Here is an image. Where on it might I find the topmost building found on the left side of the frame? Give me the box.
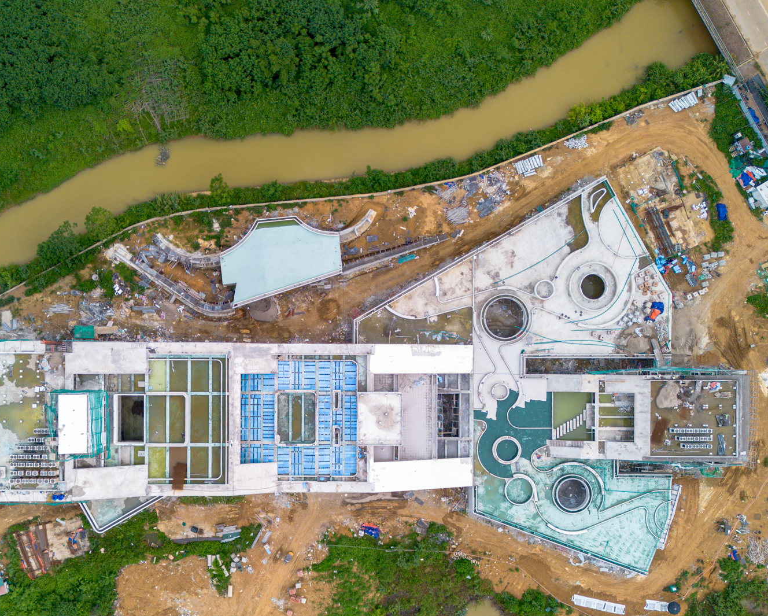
[220,217,343,309]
